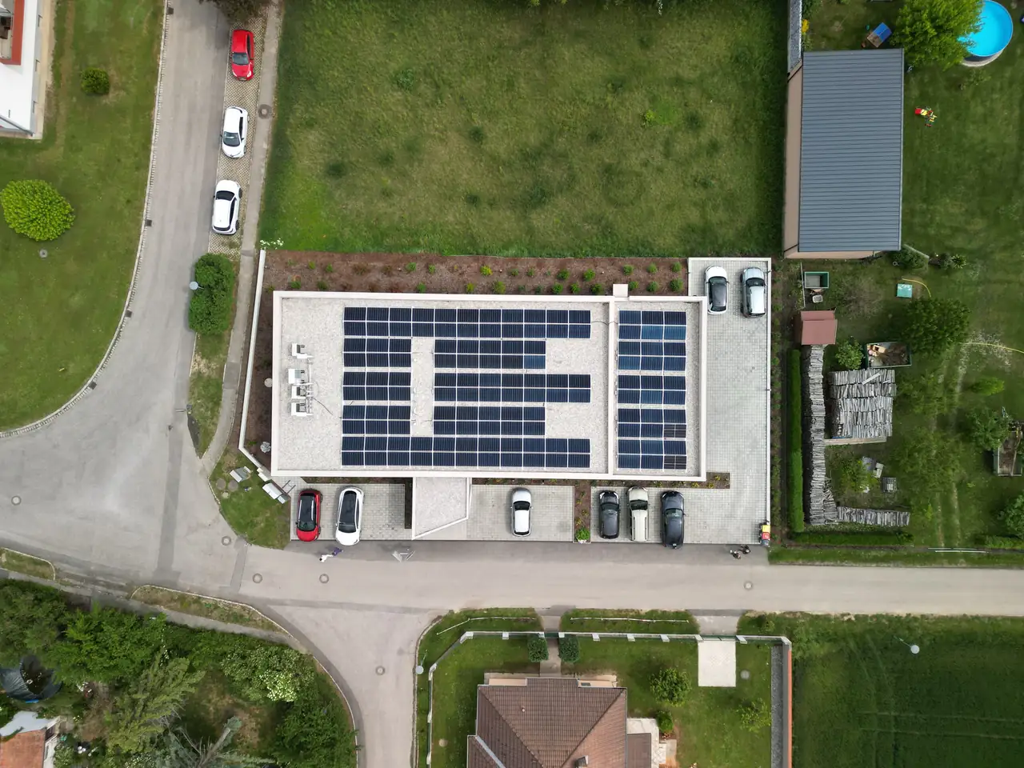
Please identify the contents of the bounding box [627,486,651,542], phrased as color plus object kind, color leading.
white car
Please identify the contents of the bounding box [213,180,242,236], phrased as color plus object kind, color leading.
white car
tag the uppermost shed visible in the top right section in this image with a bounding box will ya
[783,44,905,258]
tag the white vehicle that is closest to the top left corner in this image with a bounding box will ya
[221,106,251,160]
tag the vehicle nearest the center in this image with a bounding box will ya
[509,487,534,537]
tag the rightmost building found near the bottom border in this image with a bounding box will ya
[467,678,652,768]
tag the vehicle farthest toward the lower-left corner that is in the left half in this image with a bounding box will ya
[295,489,323,540]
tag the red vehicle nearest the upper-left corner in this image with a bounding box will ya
[228,29,257,83]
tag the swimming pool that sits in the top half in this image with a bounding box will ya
[954,0,1013,67]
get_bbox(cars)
[509,487,534,537]
[228,29,257,83]
[213,180,242,236]
[627,486,651,542]
[597,490,622,539]
[221,106,251,160]
[295,489,323,540]
[334,487,364,545]
[704,266,730,315]
[739,267,767,317]
[659,489,687,549]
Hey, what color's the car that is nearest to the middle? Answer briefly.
white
